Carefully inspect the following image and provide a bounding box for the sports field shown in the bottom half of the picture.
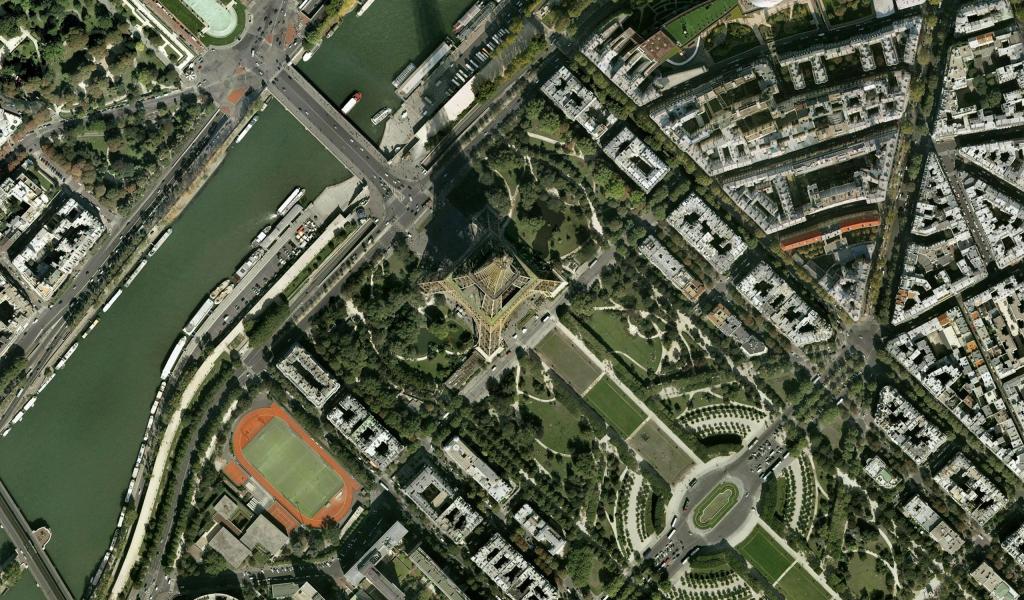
[233,402,362,526]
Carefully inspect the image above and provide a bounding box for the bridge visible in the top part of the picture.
[268,66,378,177]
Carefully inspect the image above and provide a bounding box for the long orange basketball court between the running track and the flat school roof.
[266,499,301,534]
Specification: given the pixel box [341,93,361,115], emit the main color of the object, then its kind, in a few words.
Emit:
white boat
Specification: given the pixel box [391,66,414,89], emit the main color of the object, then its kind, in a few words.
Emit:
gray boat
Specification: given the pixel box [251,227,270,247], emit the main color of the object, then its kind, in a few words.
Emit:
white boat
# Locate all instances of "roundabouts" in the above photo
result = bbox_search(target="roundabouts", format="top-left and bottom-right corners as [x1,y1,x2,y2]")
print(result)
[685,468,747,538]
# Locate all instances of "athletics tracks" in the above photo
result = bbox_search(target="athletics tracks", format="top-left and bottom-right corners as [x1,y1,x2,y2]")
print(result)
[233,402,362,526]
